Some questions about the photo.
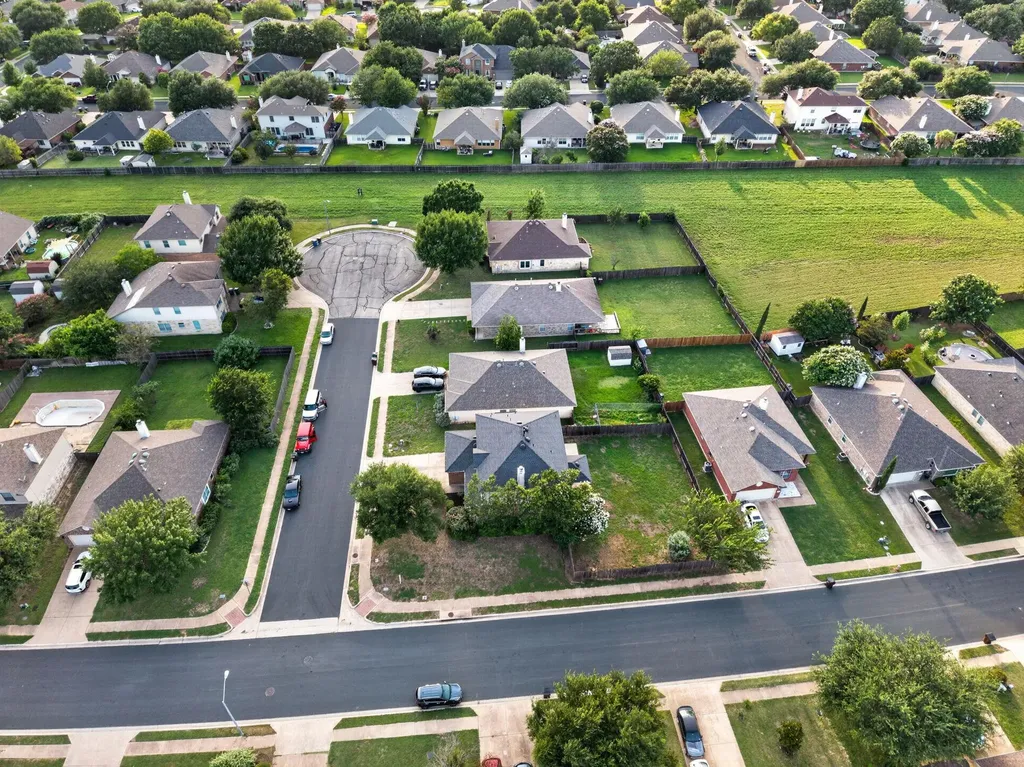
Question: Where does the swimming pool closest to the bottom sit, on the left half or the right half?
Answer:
left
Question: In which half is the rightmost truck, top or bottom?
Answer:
bottom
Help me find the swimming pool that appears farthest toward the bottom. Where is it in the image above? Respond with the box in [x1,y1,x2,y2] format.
[36,399,103,430]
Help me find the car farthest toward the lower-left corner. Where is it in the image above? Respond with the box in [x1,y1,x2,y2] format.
[65,555,92,592]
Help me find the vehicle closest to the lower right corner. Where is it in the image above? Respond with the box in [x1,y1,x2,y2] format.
[909,488,953,530]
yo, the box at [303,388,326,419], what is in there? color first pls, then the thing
white car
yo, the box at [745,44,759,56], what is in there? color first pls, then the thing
white vehicle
